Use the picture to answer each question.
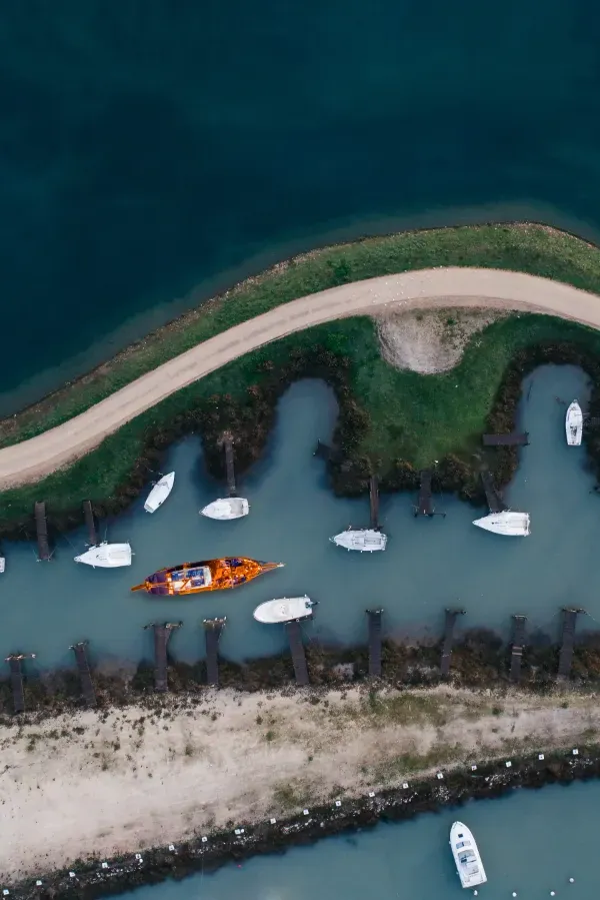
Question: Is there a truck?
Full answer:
No, the scene contains no truck.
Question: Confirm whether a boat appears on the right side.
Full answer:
Yes, there is a boat on the right side.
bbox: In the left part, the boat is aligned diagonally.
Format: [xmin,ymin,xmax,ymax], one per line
[145,472,175,513]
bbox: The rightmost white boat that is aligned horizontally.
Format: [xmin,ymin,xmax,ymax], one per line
[471,509,534,538]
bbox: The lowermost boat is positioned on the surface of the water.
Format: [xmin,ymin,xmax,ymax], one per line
[450,819,488,891]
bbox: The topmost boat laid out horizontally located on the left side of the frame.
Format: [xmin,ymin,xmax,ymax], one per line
[198,497,252,520]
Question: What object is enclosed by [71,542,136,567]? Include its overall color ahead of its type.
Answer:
white boat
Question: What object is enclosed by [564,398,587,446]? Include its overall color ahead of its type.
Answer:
white boat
